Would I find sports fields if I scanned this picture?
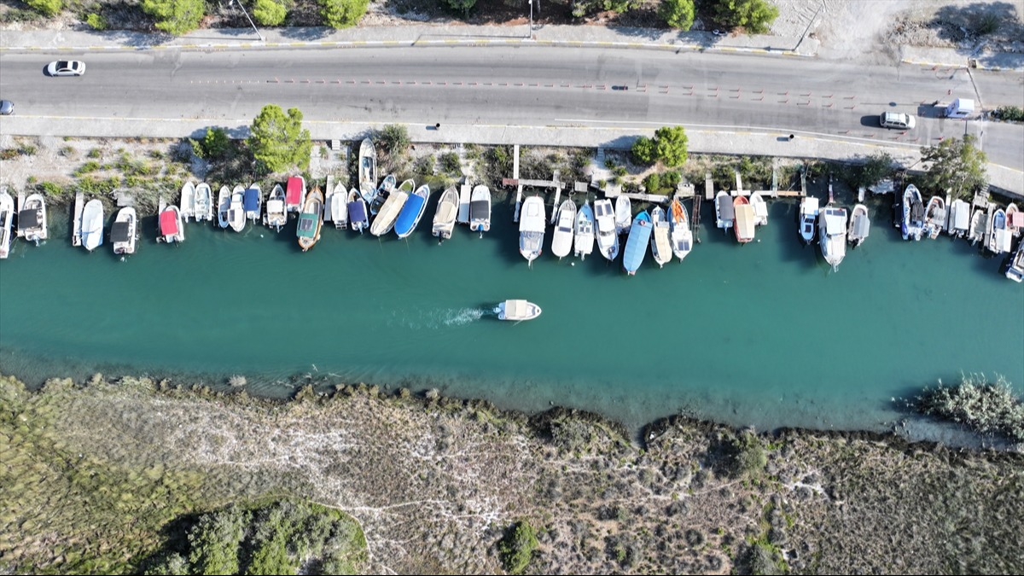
No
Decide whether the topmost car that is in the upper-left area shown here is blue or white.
white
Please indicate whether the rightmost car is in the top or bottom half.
top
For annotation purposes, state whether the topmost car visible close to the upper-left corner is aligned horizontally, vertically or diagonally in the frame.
horizontally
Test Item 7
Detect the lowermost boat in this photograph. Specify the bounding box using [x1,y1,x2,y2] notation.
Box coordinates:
[491,299,541,320]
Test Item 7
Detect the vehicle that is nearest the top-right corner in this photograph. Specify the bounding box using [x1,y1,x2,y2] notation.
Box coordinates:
[877,110,917,131]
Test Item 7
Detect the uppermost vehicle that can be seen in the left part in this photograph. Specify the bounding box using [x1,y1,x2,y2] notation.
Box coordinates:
[46,57,87,77]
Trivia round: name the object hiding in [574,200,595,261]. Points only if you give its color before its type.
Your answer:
white boat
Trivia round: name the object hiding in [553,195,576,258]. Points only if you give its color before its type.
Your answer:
white boat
